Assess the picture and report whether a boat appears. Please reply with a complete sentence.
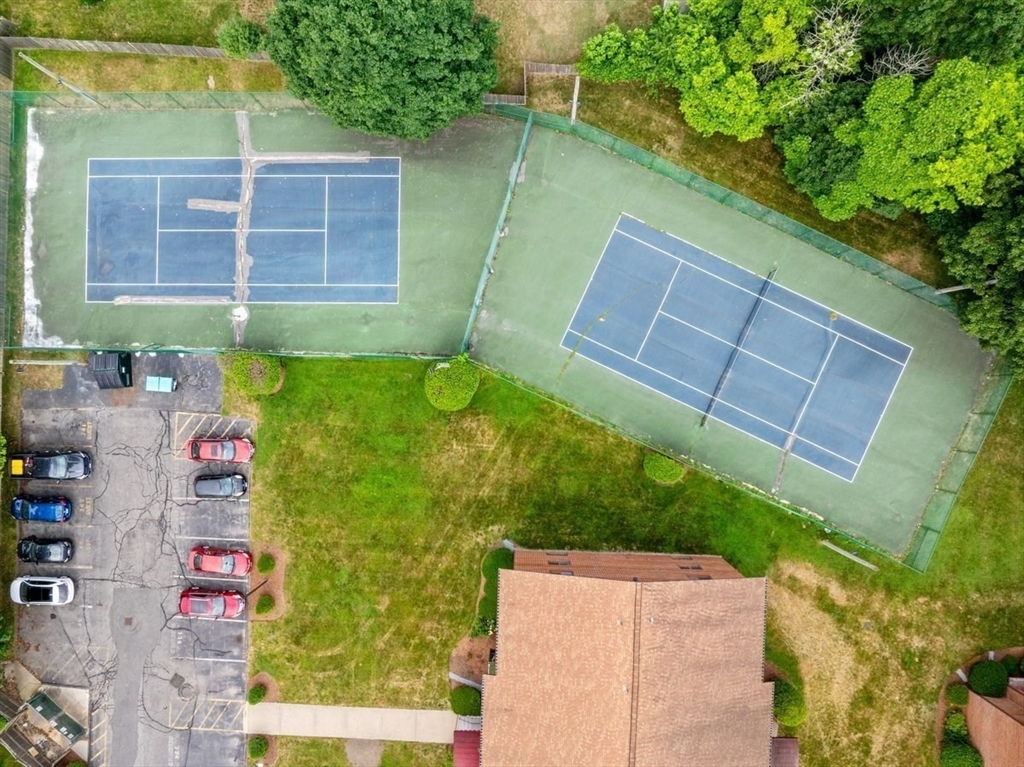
No, no boat is visible in the scene.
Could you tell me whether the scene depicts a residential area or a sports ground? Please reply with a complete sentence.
The area seen from above is a sports ground.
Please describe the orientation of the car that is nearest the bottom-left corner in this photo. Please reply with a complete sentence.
In this picture, the car that is nearest the bottom-left corner is oriented horizontally.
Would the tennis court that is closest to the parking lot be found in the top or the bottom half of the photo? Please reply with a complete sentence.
Seen from above, the tennis court that is closest to the parking lot lies in the top half of the view.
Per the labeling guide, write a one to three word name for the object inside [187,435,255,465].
car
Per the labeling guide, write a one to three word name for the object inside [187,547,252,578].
car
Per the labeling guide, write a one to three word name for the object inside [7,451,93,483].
truck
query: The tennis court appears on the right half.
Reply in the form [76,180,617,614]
[468,124,991,555]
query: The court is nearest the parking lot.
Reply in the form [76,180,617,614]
[21,106,528,357]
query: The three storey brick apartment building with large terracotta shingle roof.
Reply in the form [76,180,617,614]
[479,548,775,767]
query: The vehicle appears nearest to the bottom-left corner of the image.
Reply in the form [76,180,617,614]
[11,576,77,608]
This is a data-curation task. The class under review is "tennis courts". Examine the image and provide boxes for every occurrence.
[21,106,528,357]
[468,124,991,555]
